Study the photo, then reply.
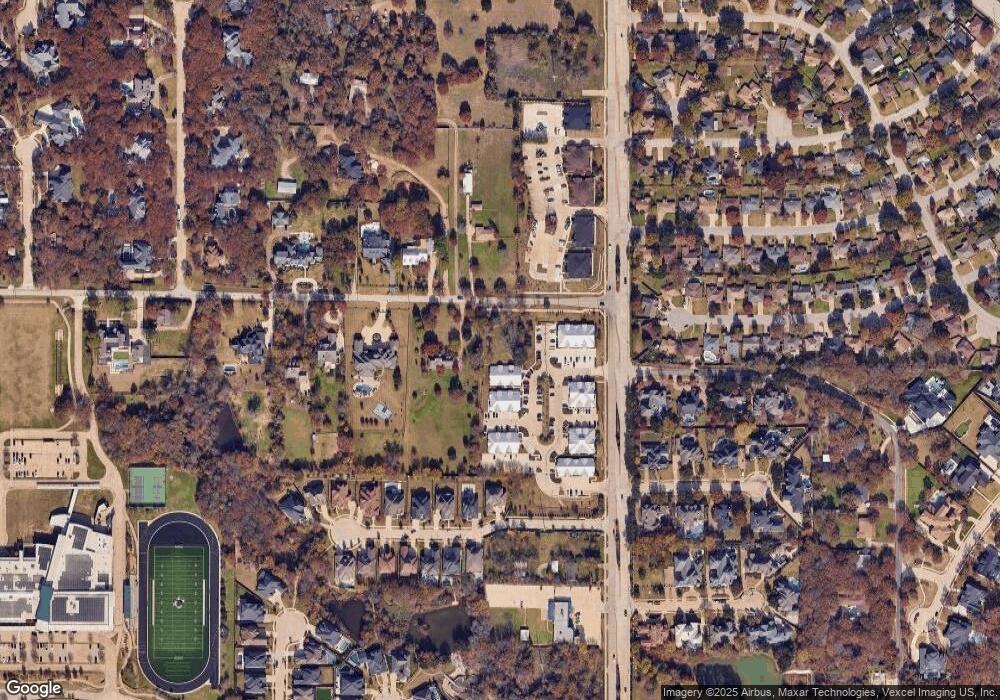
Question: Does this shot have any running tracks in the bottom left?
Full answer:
Yes, I can see a running track in the bottom left.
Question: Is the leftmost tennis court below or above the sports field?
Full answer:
You can see the leftmost tennis court above the sports field in the frame.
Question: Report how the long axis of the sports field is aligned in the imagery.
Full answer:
The sports field has been laid out up and down relative to the frame.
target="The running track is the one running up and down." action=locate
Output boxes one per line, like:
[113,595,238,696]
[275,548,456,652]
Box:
[138,512,220,693]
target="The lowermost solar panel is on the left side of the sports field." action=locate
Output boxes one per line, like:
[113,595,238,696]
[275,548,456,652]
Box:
[52,598,104,622]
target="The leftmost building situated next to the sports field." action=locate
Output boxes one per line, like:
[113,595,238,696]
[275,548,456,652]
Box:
[0,504,113,631]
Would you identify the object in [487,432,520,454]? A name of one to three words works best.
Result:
building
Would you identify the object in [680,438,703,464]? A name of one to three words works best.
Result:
house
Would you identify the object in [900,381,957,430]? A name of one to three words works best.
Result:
house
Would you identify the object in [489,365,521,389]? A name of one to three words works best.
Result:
building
